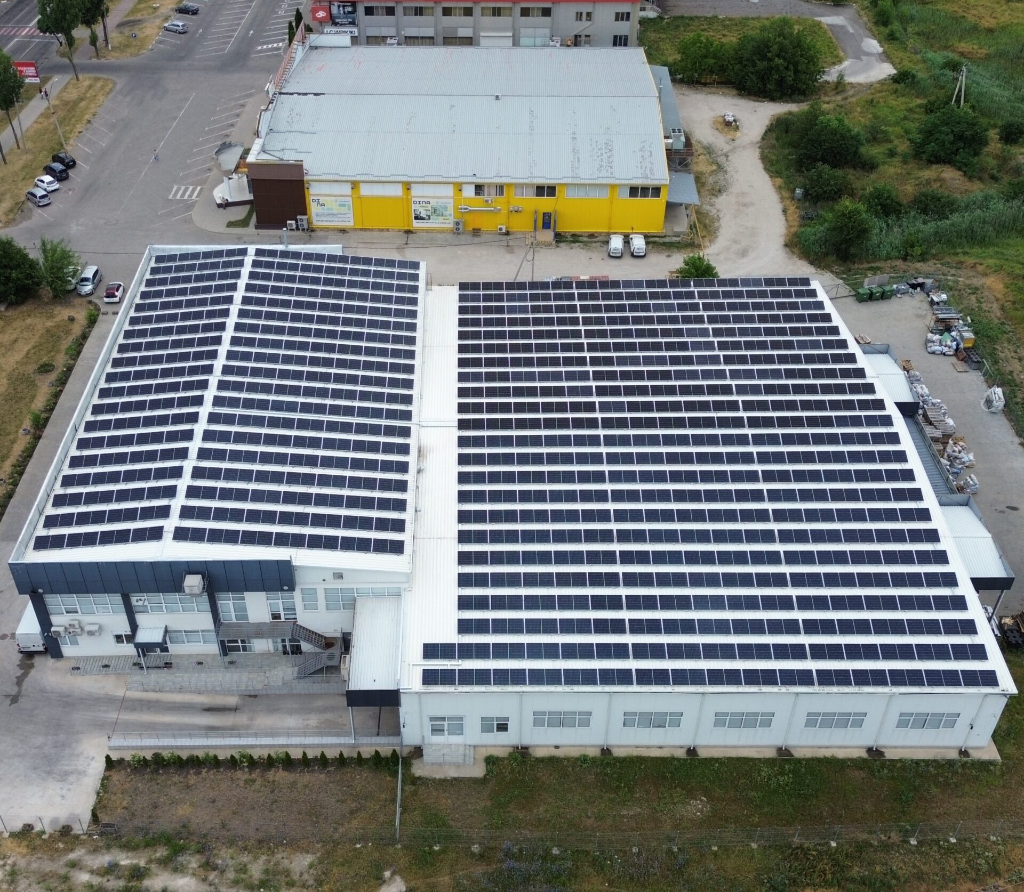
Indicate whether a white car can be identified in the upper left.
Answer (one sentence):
Yes, looking in the upper left, one can make out a white car.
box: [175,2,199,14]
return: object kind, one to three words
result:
vehicle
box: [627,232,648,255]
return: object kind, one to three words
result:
vehicle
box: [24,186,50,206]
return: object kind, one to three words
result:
car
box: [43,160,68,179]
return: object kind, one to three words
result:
car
